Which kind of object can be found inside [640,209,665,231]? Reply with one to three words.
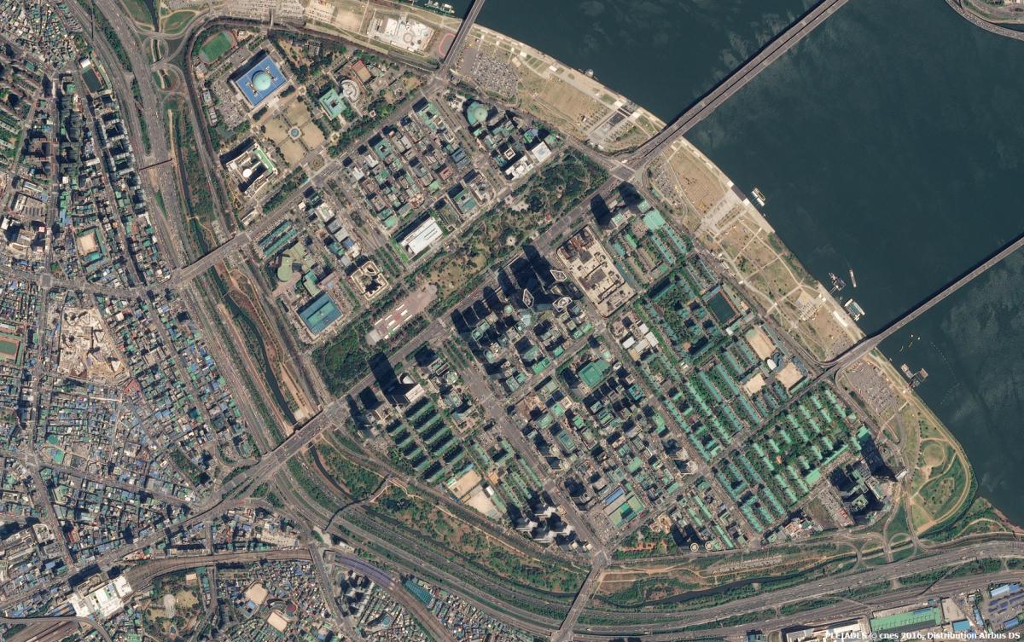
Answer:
building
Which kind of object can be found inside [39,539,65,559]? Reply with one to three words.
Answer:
building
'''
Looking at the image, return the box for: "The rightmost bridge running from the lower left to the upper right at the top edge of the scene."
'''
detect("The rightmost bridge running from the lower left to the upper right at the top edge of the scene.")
[624,0,847,170]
